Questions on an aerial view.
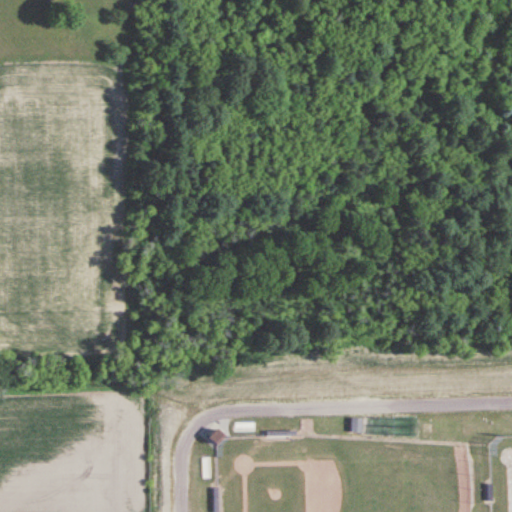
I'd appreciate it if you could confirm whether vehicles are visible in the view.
No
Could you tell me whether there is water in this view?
No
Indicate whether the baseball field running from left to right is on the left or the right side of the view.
right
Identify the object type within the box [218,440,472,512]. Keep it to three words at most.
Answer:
baseball field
